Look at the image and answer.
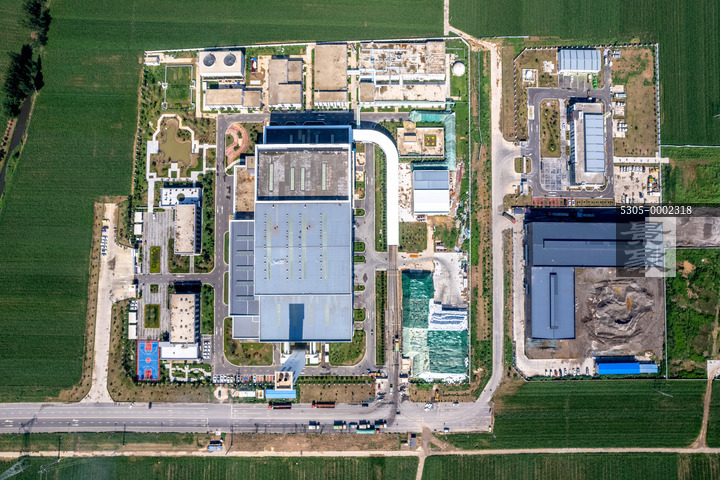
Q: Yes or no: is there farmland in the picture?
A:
Yes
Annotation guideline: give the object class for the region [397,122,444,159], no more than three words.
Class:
building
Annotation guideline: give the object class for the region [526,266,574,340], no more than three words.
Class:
shed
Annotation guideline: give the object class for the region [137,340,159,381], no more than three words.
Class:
basketball court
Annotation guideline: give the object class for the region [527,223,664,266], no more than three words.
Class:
shed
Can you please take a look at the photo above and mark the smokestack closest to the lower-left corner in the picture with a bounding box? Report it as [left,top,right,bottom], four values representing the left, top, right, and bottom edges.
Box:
[279,349,305,390]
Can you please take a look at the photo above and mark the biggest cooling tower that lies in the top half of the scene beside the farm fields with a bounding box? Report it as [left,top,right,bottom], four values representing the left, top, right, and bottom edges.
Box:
[199,51,245,79]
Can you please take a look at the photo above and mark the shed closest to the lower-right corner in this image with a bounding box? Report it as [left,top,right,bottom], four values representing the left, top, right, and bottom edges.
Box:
[592,361,657,375]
